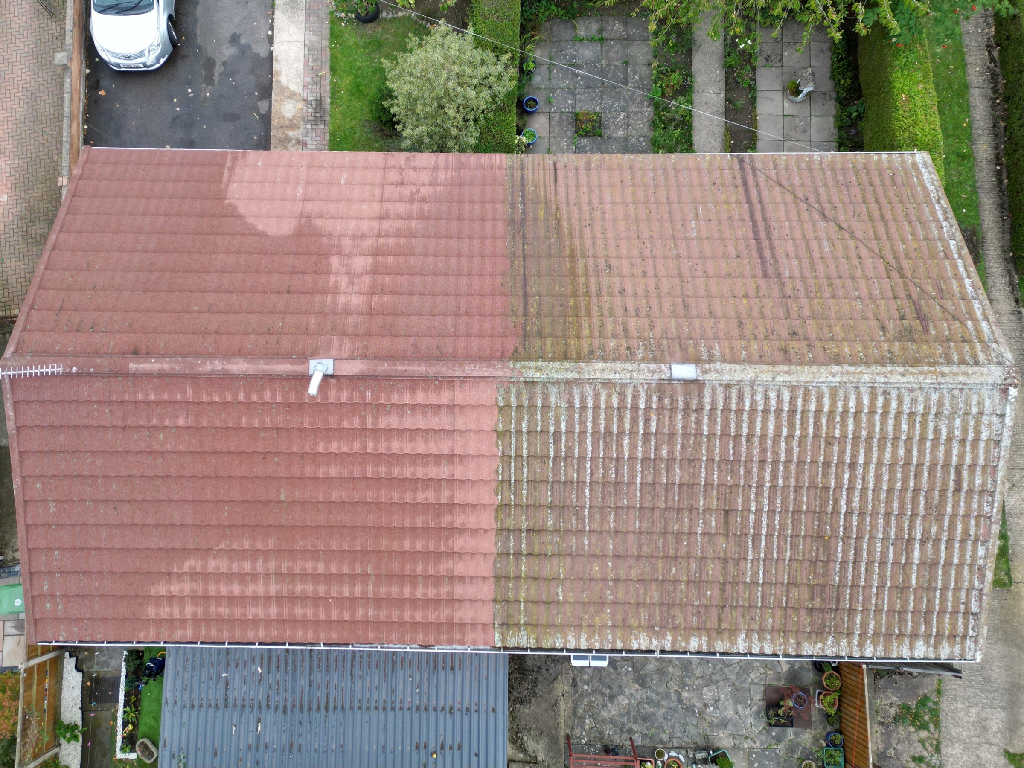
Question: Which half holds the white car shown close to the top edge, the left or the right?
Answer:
left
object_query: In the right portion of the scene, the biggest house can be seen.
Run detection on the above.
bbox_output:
[490,148,1021,668]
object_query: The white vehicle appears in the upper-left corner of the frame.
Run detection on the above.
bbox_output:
[91,0,178,72]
